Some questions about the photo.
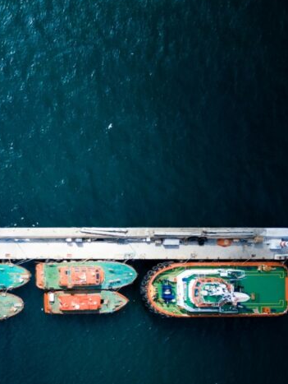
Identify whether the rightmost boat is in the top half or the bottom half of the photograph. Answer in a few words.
bottom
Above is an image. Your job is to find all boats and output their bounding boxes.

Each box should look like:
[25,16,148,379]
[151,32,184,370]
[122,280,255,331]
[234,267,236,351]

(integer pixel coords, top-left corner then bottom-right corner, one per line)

[0,294,24,320]
[43,290,130,314]
[0,263,32,292]
[140,257,288,320]
[36,261,139,291]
